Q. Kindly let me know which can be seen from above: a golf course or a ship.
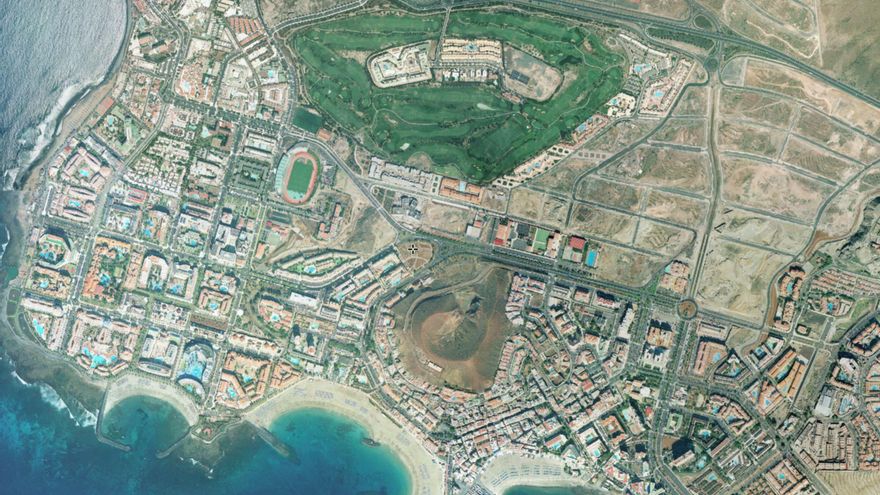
golf course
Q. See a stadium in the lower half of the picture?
No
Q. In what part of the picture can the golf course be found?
top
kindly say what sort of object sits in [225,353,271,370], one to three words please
building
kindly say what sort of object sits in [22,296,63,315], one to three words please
building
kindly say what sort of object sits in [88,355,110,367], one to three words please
swimming pool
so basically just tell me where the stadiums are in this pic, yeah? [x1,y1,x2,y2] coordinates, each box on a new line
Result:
[275,142,321,207]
